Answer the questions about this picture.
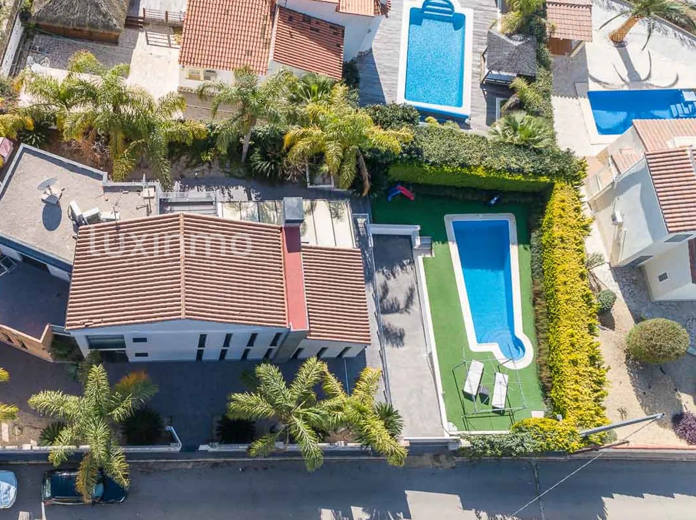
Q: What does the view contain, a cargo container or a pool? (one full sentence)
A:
Looking from above, you can make out a pool.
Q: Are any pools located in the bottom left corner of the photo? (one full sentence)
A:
No, no pool can be made out in the bottom left corner of the photo.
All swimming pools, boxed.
[400,0,471,113]
[579,83,696,141]
[446,215,532,368]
